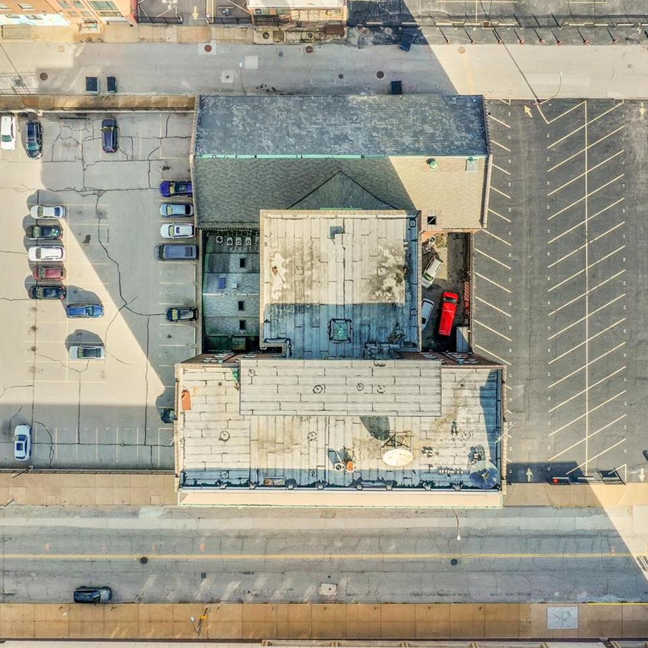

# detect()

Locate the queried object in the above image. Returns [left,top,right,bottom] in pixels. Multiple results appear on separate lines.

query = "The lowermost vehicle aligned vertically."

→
[14,425,31,461]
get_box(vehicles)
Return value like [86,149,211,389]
[14,425,31,461]
[159,181,193,197]
[161,222,196,239]
[24,121,43,158]
[74,586,110,604]
[0,113,18,150]
[31,245,64,260]
[67,302,103,318]
[69,344,105,359]
[159,202,194,218]
[26,223,62,239]
[420,252,445,287]
[156,242,197,259]
[159,408,176,424]
[437,291,460,336]
[101,119,119,154]
[165,306,198,323]
[31,204,67,219]
[30,284,66,300]
[34,266,65,280]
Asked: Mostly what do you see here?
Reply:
paved ground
